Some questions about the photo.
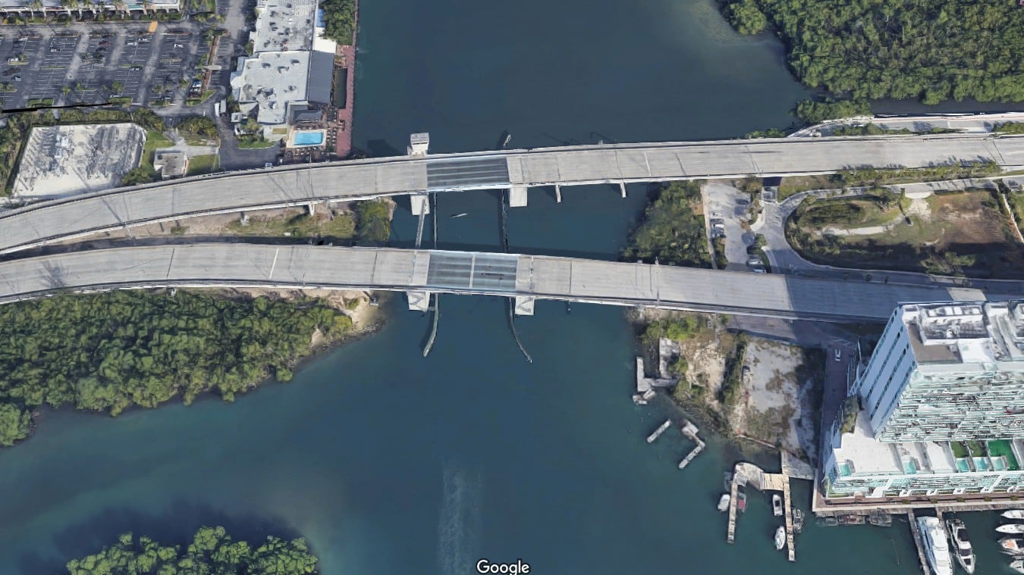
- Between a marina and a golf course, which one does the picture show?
marina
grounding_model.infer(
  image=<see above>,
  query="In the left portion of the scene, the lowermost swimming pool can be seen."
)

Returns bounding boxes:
[285,127,327,150]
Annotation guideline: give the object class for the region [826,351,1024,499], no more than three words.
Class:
building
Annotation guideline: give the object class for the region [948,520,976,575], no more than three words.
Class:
boat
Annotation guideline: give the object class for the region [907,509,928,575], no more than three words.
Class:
pier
